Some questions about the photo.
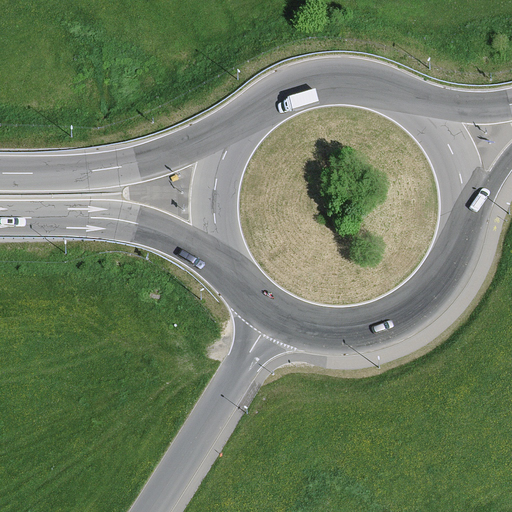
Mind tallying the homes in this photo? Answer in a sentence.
I count no homes.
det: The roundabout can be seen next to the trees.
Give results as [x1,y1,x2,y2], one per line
[134,104,512,353]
